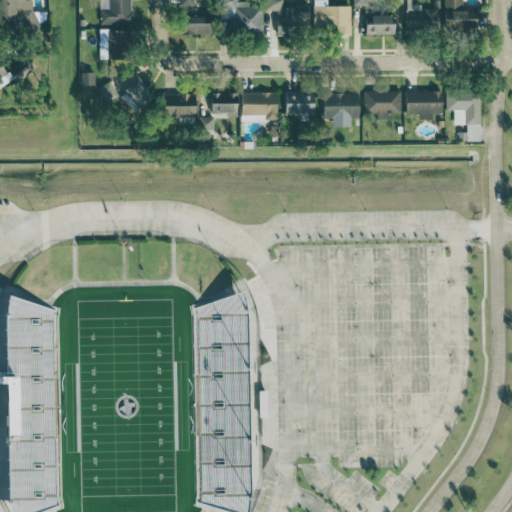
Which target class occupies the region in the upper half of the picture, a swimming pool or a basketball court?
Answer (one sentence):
There is a swimming pool in the upper half of the picture.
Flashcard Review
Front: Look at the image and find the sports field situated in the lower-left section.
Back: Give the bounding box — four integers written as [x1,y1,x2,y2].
[54,286,199,512]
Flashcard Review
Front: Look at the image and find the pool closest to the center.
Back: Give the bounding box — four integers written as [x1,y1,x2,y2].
[242,122,267,142]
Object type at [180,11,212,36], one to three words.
house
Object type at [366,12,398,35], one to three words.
house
